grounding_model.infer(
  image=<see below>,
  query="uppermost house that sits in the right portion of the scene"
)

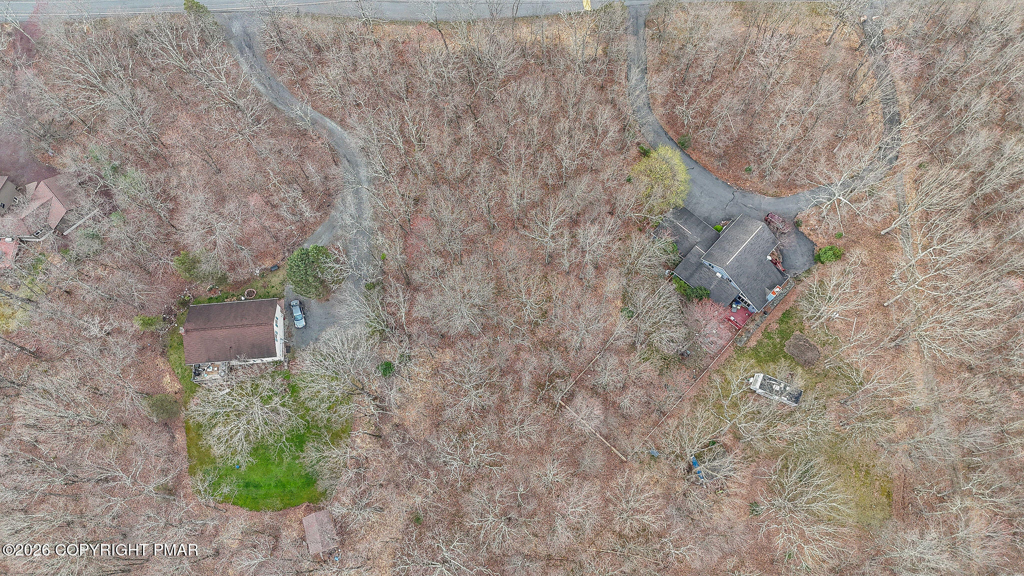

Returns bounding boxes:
[651,207,789,316]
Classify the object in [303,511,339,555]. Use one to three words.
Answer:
shed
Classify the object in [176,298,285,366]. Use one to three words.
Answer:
house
